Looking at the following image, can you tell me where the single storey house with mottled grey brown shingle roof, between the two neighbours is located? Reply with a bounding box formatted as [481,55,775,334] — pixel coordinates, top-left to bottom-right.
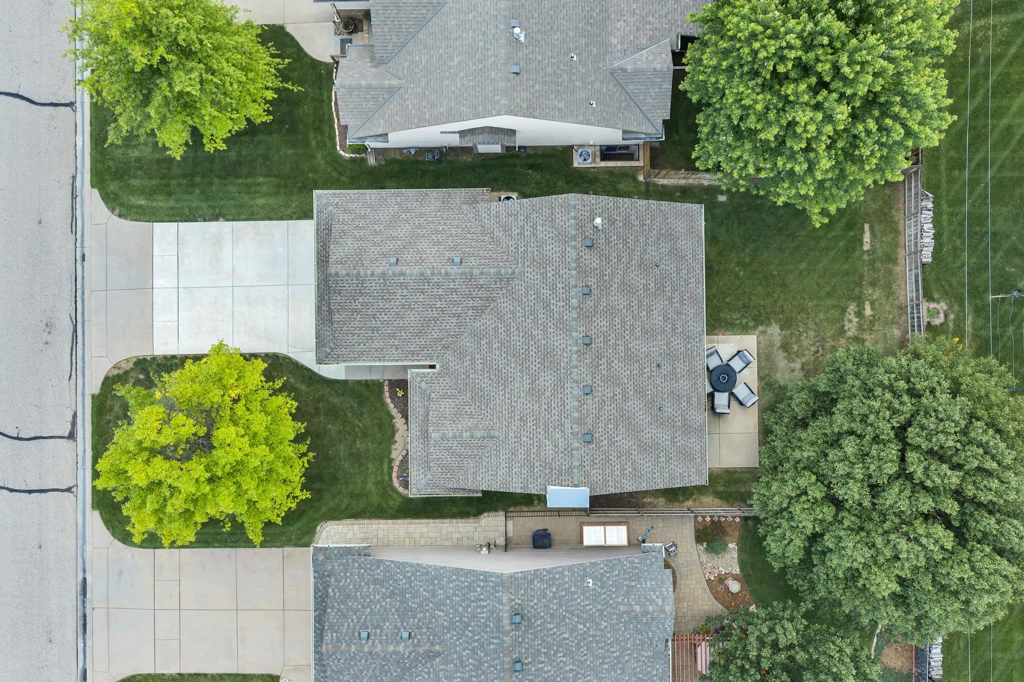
[314,187,708,509]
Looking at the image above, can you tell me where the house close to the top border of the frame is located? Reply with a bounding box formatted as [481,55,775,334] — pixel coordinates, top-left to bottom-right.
[313,0,697,162]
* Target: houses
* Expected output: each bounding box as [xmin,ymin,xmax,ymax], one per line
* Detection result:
[313,0,697,162]
[311,543,674,682]
[314,187,708,509]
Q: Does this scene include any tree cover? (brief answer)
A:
Yes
